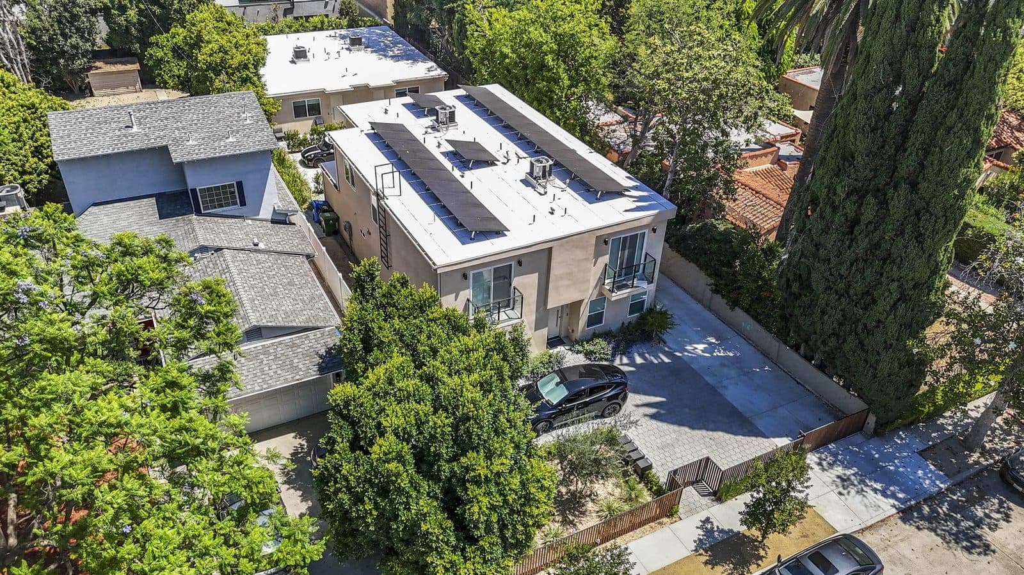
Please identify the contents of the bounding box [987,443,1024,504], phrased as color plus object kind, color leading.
black car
